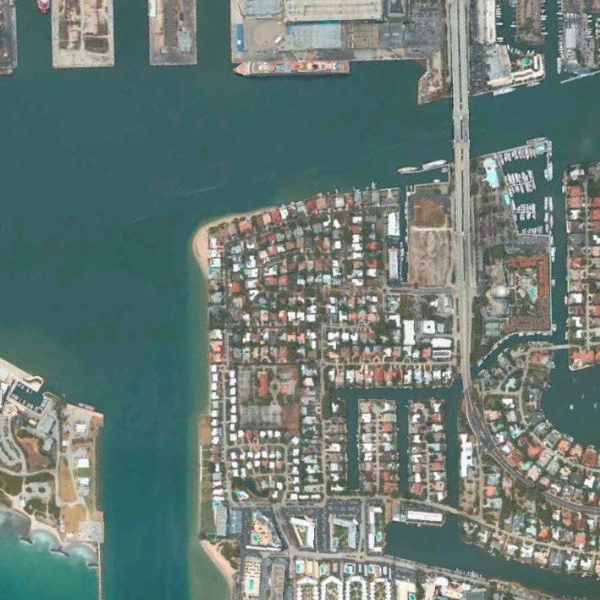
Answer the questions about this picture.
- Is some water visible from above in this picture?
Yes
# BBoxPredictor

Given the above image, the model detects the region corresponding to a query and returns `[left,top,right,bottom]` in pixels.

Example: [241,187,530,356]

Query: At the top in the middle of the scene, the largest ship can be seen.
[235,60,350,75]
